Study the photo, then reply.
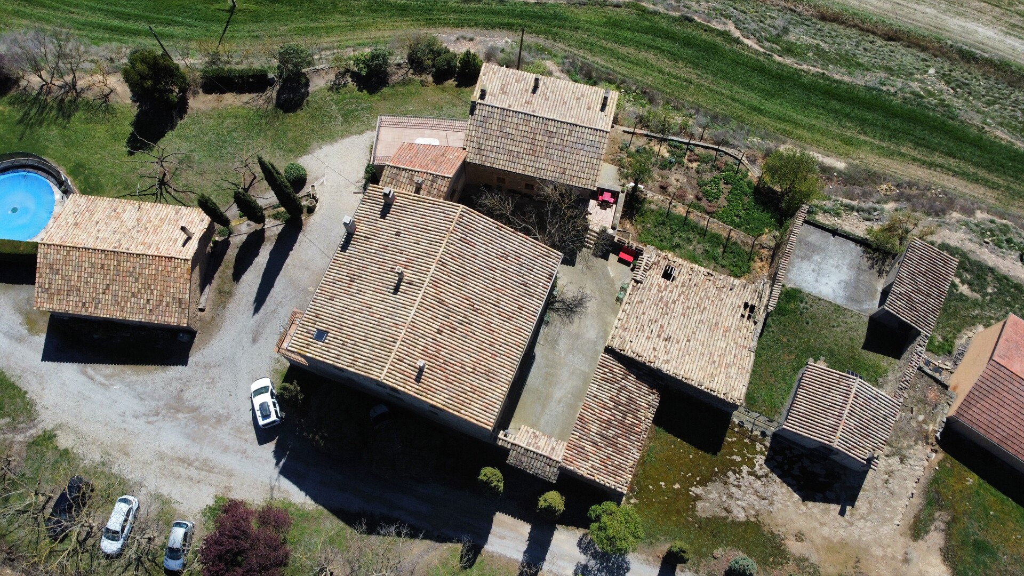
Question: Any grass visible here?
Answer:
Yes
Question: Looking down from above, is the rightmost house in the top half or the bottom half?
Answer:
bottom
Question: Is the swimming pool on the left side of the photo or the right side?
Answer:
left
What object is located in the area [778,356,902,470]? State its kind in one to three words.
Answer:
shed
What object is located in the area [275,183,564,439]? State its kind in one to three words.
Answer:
house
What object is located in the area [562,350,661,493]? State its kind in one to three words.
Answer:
shed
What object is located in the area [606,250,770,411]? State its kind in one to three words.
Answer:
barn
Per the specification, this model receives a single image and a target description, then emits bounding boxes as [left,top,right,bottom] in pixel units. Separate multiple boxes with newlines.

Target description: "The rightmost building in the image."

[933,313,1024,468]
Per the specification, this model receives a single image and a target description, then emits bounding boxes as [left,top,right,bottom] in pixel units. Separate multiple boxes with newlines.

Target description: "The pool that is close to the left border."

[0,161,68,242]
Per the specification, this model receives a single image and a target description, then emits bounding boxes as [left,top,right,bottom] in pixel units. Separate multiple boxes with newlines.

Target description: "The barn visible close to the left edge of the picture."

[34,193,224,334]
